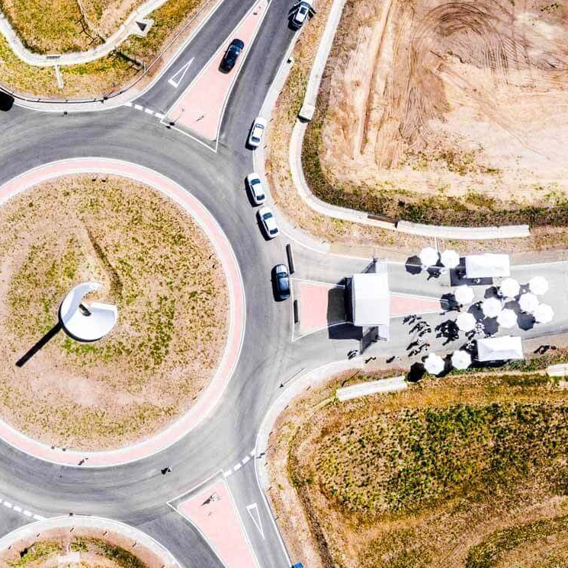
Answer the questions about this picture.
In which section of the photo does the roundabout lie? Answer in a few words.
left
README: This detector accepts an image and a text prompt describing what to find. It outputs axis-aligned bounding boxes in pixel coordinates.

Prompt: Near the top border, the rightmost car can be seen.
[286,0,314,30]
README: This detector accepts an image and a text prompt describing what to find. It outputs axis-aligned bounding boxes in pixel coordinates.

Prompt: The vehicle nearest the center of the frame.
[271,263,289,299]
